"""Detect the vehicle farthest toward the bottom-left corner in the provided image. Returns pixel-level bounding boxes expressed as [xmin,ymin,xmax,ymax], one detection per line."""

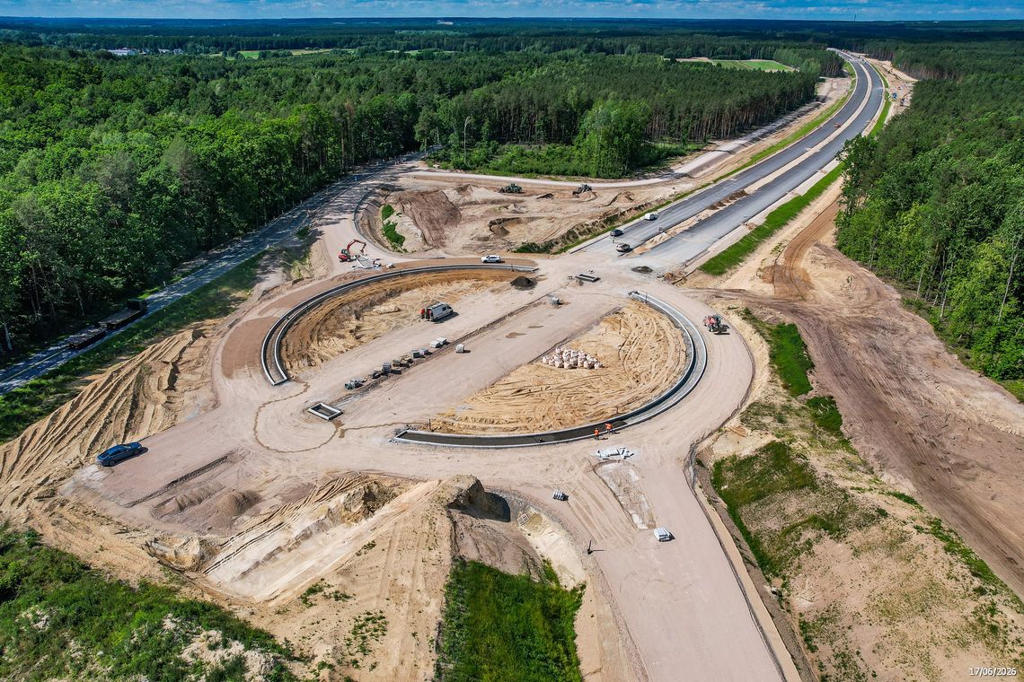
[92,440,144,468]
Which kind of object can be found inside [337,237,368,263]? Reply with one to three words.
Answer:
work vehicle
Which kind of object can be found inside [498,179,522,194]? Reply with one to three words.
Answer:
work vehicle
